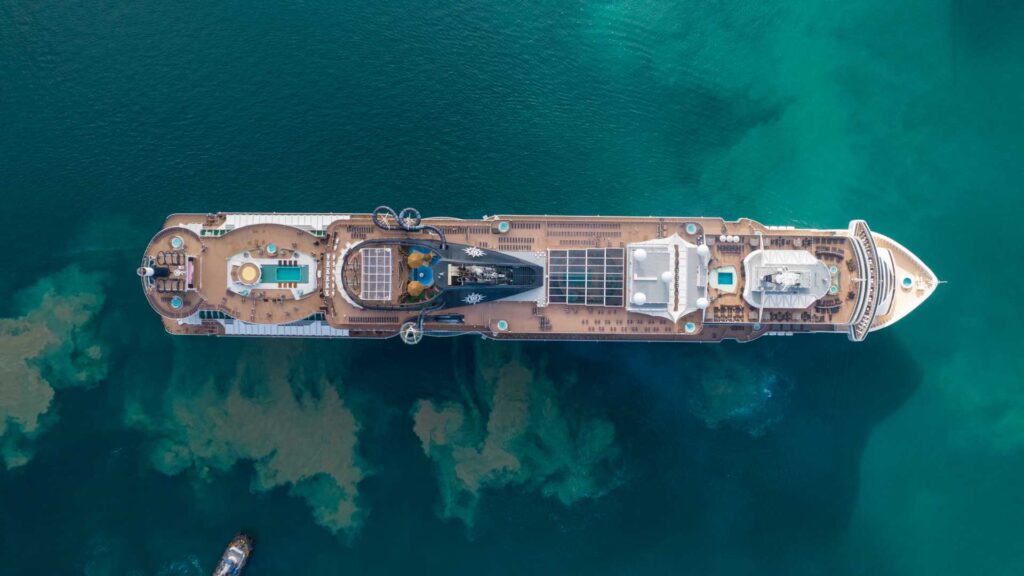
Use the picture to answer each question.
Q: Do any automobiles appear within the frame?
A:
No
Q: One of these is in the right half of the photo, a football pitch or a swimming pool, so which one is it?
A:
swimming pool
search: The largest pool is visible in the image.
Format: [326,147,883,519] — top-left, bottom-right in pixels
[227,251,318,299]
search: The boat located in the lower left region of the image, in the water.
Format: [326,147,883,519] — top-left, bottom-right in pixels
[209,532,251,576]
